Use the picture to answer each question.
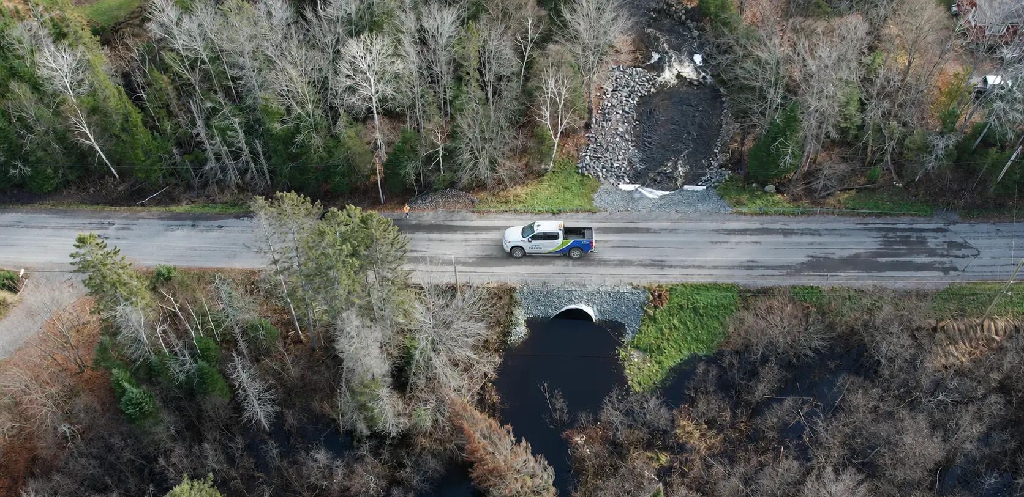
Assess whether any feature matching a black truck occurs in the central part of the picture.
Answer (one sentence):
No, there's no black truck to be seen in the central part of the picture.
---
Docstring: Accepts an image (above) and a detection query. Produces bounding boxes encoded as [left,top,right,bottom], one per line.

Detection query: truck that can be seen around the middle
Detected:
[500,219,596,258]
